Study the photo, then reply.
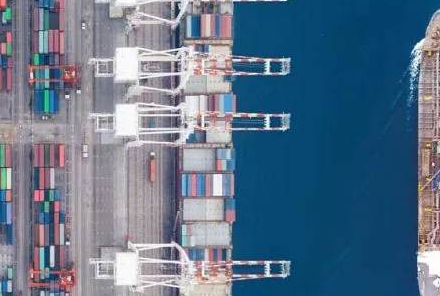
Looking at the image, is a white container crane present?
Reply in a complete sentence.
Yes, there's a white container crane down there.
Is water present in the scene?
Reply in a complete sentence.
Yes, water shows up in the scene.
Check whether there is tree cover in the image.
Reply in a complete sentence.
No, the scene doesn't show any tree cover.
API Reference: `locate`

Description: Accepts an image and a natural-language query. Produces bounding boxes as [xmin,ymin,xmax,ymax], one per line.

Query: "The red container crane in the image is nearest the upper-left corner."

[28,61,83,88]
